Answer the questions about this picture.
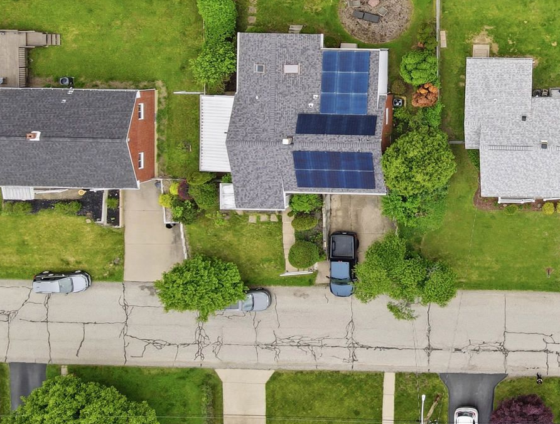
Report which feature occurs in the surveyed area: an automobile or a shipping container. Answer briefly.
automobile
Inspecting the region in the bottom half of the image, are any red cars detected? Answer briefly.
No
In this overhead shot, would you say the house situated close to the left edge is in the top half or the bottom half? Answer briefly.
top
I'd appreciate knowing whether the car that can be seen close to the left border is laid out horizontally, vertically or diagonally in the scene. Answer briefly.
horizontally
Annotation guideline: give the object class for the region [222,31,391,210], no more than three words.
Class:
house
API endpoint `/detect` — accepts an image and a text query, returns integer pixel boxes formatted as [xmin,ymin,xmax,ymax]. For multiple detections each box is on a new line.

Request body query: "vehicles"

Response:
[322,229,355,295]
[453,405,479,424]
[218,287,270,316]
[28,269,93,298]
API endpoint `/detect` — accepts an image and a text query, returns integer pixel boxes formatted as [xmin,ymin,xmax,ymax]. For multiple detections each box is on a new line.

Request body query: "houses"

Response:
[0,87,161,193]
[463,57,560,204]
[222,31,391,210]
